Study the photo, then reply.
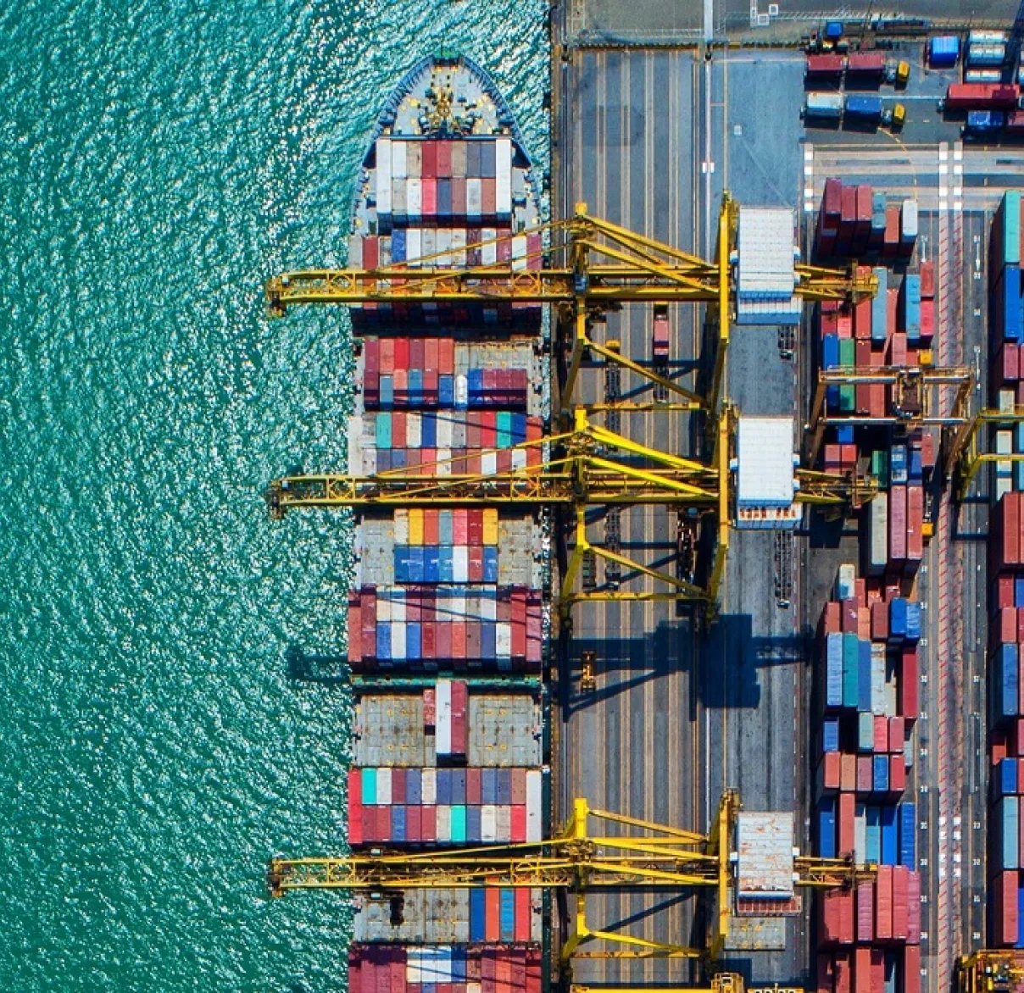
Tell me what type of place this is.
port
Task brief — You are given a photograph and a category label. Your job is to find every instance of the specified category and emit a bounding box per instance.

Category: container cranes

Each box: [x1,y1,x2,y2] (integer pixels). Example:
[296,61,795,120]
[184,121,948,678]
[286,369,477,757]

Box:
[266,394,880,620]
[957,947,1024,993]
[266,188,880,432]
[1005,0,1024,82]
[961,406,1024,507]
[810,369,977,473]
[266,783,880,975]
